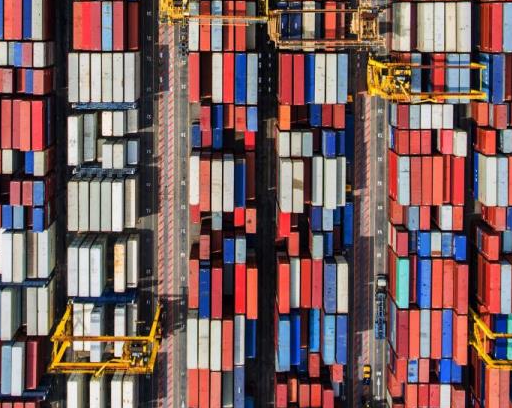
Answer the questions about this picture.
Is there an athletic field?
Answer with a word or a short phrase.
No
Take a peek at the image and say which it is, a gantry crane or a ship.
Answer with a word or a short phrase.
gantry crane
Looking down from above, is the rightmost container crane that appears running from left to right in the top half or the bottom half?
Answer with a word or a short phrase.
top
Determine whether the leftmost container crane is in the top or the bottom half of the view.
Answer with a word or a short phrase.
bottom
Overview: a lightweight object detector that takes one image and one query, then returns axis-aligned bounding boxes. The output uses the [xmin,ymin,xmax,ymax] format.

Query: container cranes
[50,294,169,390]
[264,1,383,50]
[161,0,271,29]
[465,291,512,368]
[364,50,490,109]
